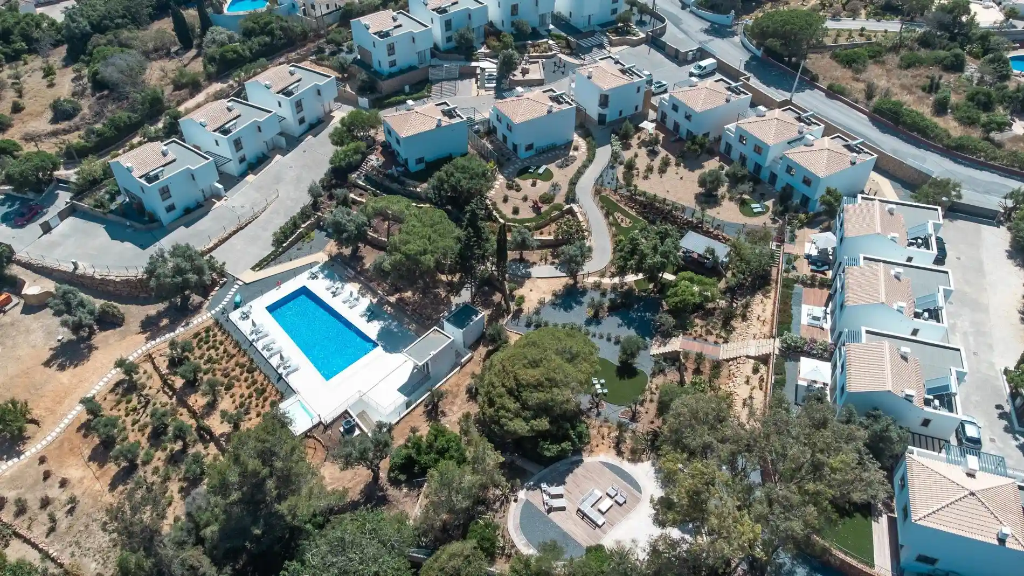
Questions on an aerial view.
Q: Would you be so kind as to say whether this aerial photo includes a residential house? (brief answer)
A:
Yes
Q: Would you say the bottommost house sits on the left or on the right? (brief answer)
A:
right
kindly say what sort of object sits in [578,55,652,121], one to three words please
house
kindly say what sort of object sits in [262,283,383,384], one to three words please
swimming pool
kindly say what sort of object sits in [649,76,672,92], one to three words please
car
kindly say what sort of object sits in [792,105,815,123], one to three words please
solar panel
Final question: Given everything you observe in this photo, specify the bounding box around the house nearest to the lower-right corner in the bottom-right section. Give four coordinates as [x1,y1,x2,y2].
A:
[889,441,1024,576]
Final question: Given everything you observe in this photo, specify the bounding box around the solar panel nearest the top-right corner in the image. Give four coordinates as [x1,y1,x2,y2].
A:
[842,134,867,152]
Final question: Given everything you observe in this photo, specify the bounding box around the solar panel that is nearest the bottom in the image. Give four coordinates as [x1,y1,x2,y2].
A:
[929,368,961,396]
